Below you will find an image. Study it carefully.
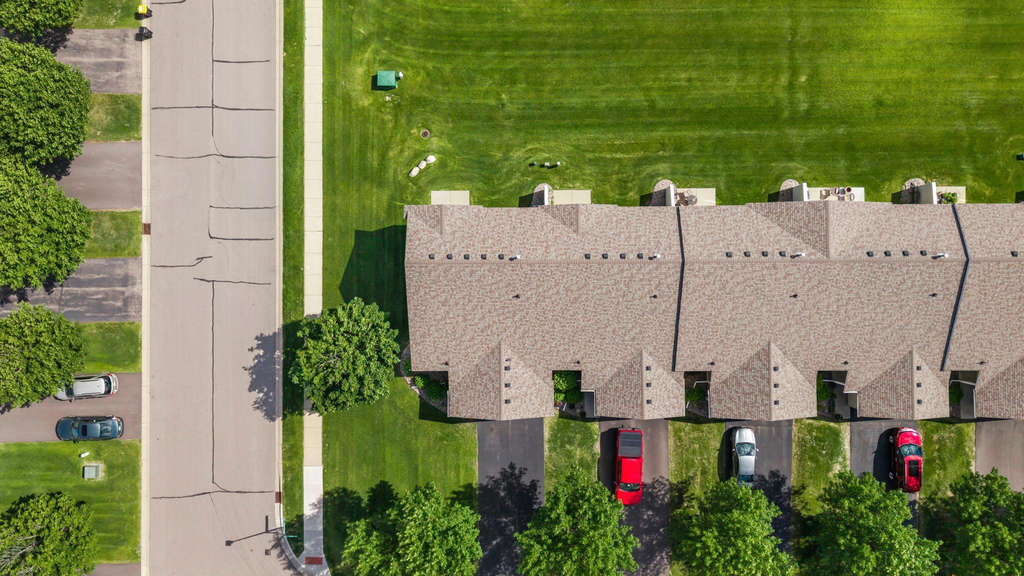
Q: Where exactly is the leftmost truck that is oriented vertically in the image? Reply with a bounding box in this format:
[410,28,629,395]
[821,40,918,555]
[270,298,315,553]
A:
[614,423,645,503]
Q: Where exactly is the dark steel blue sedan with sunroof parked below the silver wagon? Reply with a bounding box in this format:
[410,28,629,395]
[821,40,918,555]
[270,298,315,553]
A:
[60,415,125,444]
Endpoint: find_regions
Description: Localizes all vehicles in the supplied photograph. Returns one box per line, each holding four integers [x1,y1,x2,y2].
[728,425,759,488]
[614,423,645,503]
[60,415,125,444]
[60,372,122,402]
[888,428,923,492]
